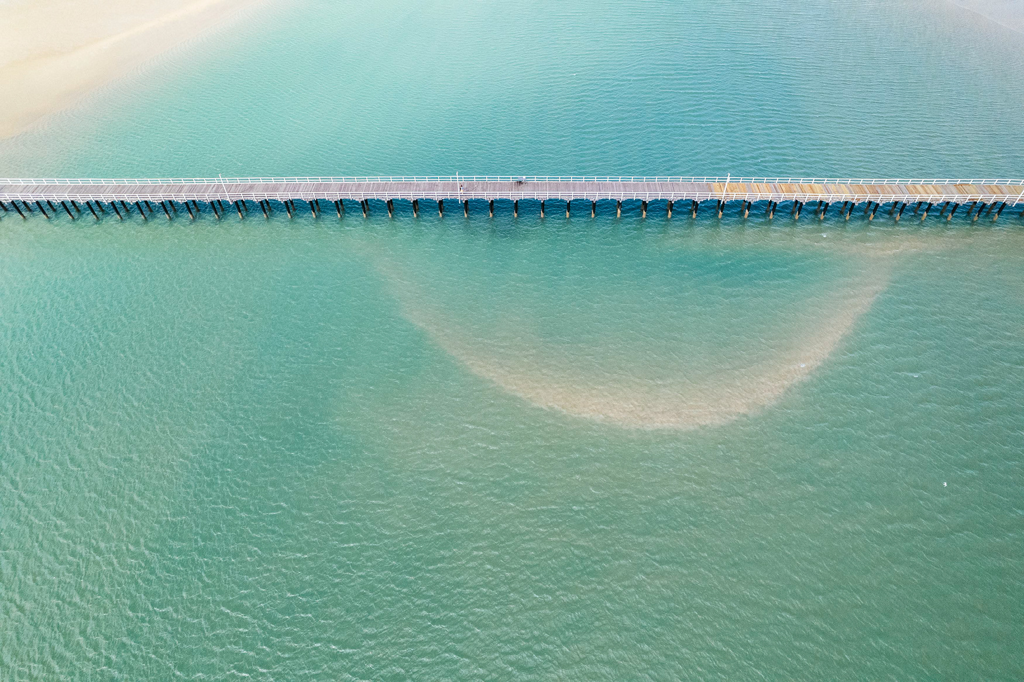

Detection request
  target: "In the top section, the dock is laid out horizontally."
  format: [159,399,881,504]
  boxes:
[0,176,1024,220]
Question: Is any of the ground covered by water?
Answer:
Yes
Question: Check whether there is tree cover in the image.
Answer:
No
